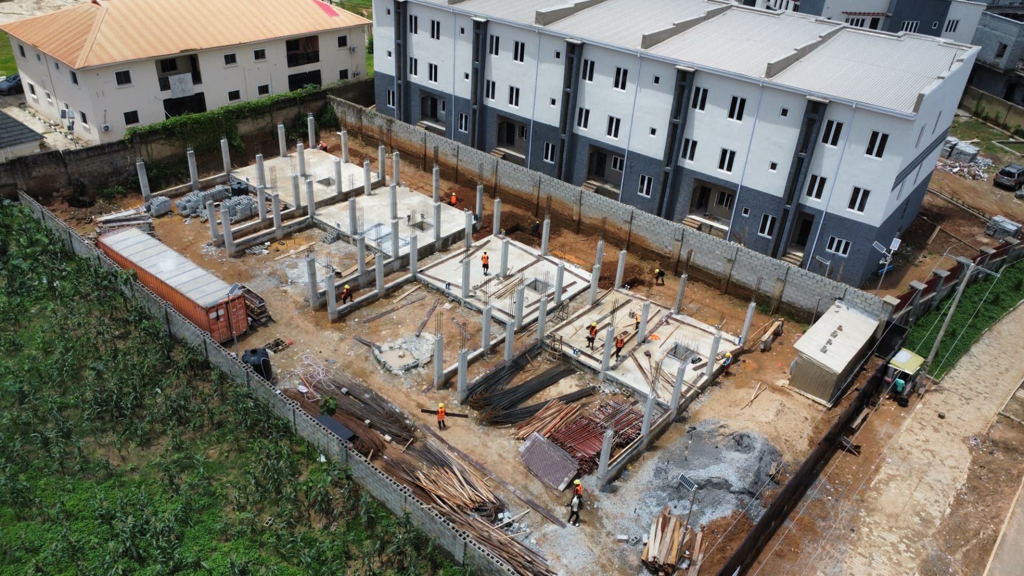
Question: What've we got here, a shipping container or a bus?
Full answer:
The image shows a shipping container.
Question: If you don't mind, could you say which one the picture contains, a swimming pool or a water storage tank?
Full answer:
Of the two, only a water storage tank appears.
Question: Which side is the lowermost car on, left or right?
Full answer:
The lowermost car appears in the right half of the scene.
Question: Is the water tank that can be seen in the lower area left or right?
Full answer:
The water tank that can be seen in the lower area sits on the left side.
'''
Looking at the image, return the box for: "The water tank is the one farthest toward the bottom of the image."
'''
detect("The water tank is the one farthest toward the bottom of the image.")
[240,343,280,383]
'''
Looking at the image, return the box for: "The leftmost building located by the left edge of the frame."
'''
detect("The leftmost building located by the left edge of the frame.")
[0,101,45,169]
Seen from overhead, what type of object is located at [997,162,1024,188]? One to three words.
car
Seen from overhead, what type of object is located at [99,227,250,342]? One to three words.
shipping container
